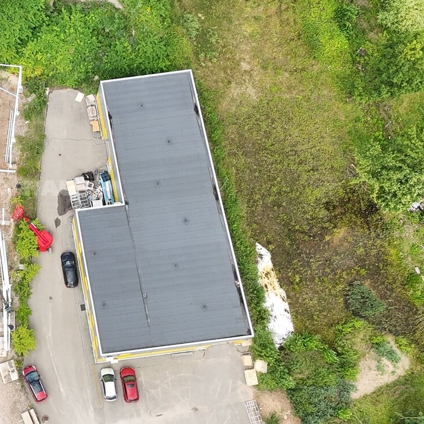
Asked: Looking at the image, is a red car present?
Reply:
Yes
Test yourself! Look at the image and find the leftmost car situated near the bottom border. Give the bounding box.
[23,365,49,405]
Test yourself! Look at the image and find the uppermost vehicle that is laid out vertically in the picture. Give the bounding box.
[60,252,78,289]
